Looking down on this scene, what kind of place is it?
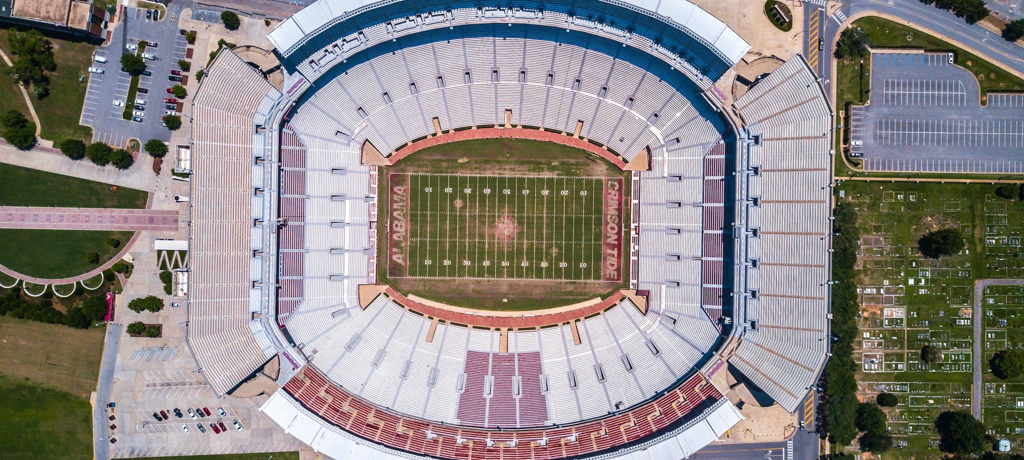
sports ground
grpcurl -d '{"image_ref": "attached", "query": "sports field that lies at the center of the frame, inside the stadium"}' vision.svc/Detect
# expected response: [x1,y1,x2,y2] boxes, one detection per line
[378,125,633,331]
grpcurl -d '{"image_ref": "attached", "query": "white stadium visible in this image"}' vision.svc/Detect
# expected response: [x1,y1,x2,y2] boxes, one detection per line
[183,0,839,460]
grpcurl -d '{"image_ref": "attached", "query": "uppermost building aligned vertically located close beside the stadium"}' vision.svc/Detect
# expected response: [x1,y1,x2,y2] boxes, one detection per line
[174,144,187,175]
